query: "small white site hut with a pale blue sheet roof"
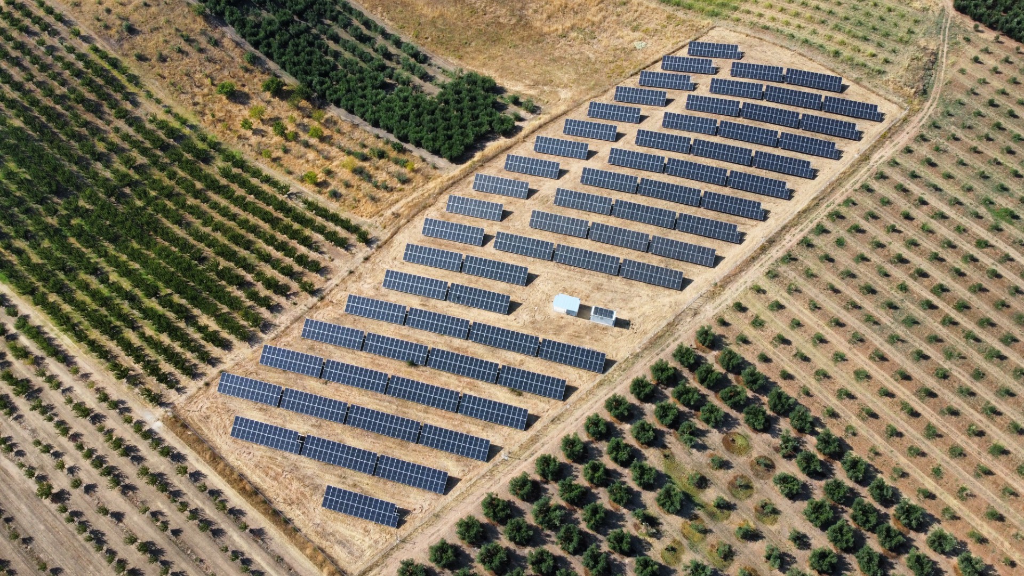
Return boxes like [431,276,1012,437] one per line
[552,293,581,317]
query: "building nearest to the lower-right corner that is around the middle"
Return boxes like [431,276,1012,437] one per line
[589,305,619,327]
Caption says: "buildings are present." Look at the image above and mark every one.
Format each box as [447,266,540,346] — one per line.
[552,293,581,317]
[589,305,619,327]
